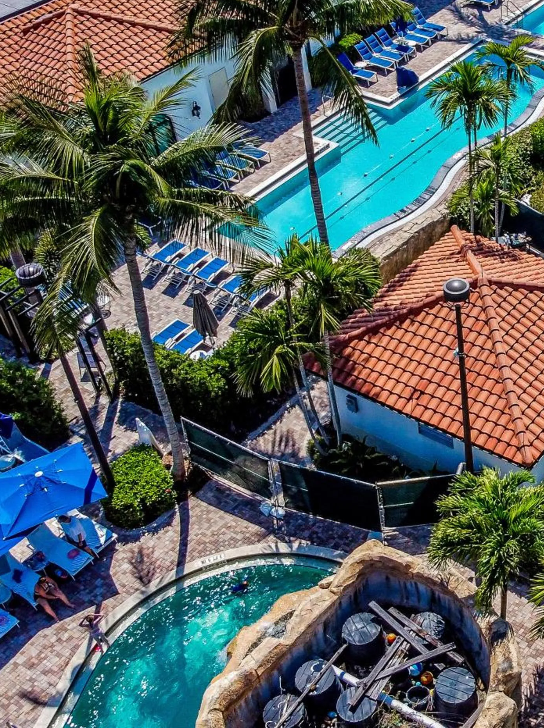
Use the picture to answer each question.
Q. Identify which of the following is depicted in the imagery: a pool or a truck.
pool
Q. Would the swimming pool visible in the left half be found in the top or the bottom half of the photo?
bottom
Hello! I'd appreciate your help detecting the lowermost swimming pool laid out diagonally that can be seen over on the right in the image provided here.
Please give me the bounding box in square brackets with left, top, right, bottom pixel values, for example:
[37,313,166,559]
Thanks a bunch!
[221,45,544,259]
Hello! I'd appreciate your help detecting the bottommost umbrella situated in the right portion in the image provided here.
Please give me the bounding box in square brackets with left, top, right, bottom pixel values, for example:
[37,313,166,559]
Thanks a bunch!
[388,62,417,93]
